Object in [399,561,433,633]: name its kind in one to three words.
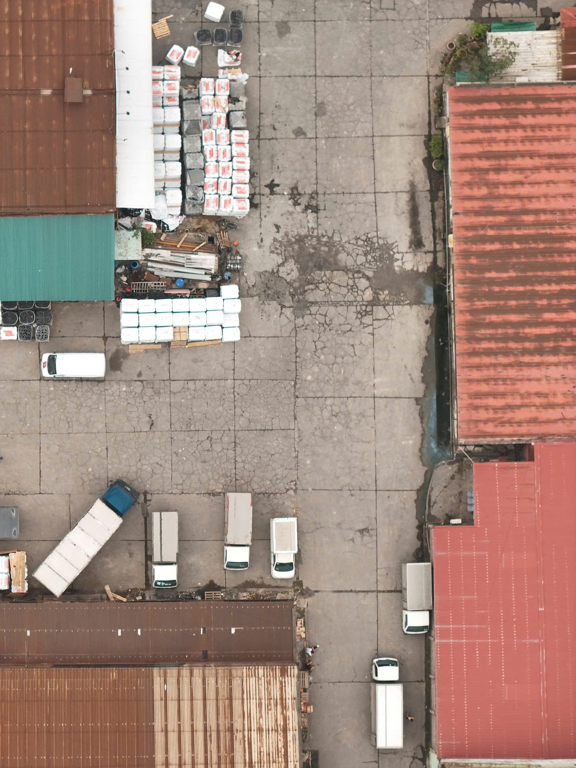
truck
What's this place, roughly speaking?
industrial area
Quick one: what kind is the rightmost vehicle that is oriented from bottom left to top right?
truck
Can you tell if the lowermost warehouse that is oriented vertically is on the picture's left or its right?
right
